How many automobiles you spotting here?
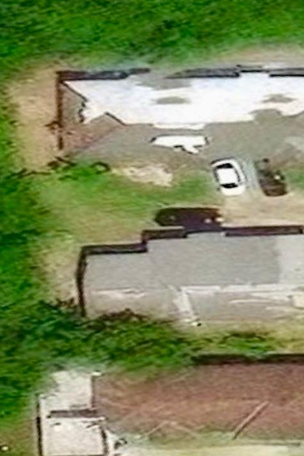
3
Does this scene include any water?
No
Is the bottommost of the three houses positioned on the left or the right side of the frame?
right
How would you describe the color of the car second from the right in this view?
white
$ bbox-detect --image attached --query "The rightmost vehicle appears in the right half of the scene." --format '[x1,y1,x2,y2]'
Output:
[256,160,287,200]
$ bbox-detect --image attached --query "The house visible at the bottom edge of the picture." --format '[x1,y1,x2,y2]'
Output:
[94,364,304,444]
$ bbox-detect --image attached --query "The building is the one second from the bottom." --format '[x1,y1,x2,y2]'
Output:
[85,231,304,324]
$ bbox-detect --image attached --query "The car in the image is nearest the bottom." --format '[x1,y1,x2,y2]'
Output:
[156,206,222,230]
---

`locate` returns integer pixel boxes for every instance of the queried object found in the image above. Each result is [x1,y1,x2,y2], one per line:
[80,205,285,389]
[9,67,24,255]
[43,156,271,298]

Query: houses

[94,364,304,444]
[85,231,304,324]
[62,74,304,160]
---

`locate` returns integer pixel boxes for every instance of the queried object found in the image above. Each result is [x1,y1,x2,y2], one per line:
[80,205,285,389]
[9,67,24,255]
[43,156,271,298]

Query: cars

[256,160,287,200]
[156,206,222,230]
[212,157,246,199]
